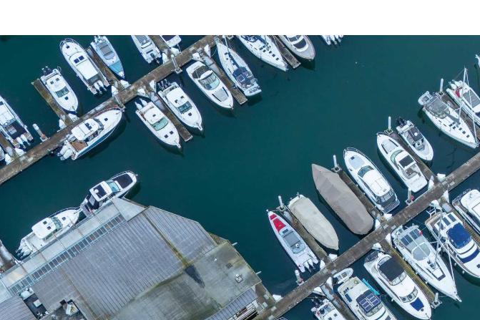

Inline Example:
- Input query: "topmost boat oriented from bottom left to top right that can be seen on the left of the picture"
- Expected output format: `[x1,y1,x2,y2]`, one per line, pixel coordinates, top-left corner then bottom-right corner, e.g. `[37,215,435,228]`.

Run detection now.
[65,103,124,161]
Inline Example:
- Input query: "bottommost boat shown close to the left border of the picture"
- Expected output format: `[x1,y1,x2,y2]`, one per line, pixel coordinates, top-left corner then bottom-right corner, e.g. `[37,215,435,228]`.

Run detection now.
[18,205,83,256]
